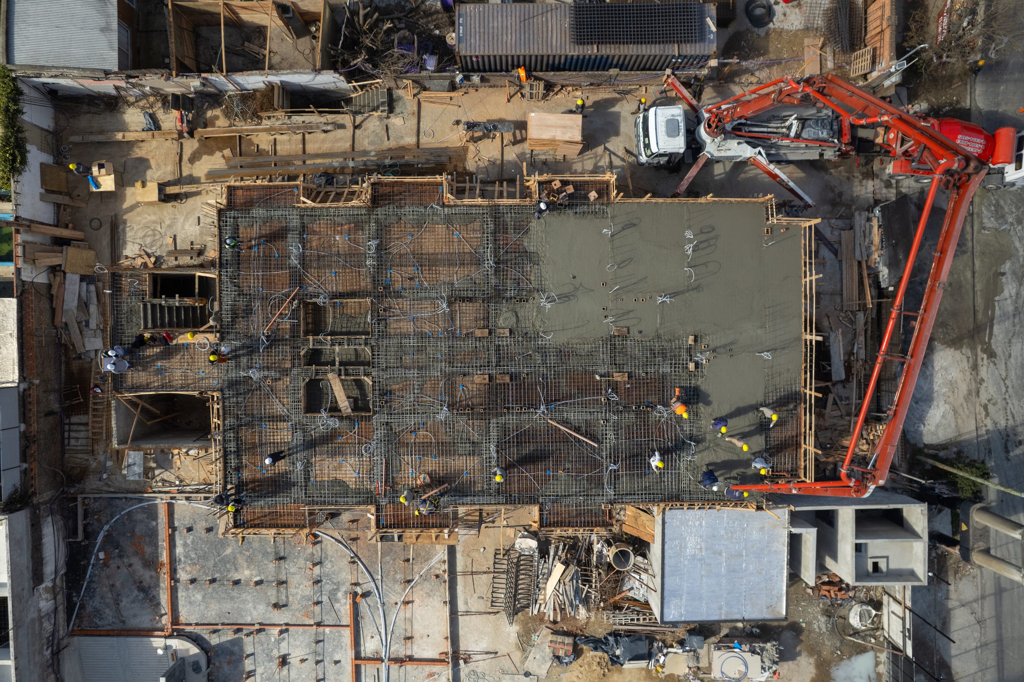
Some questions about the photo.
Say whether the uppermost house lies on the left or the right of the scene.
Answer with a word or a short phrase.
left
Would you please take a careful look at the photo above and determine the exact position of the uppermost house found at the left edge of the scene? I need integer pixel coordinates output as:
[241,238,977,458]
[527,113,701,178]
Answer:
[0,0,151,98]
